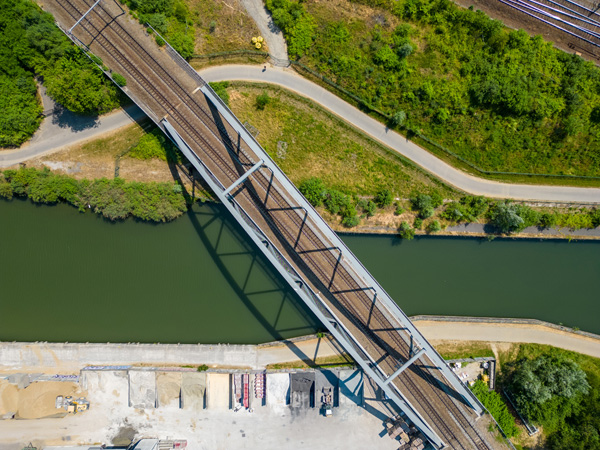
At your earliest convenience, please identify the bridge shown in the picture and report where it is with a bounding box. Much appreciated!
[125,45,488,450]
